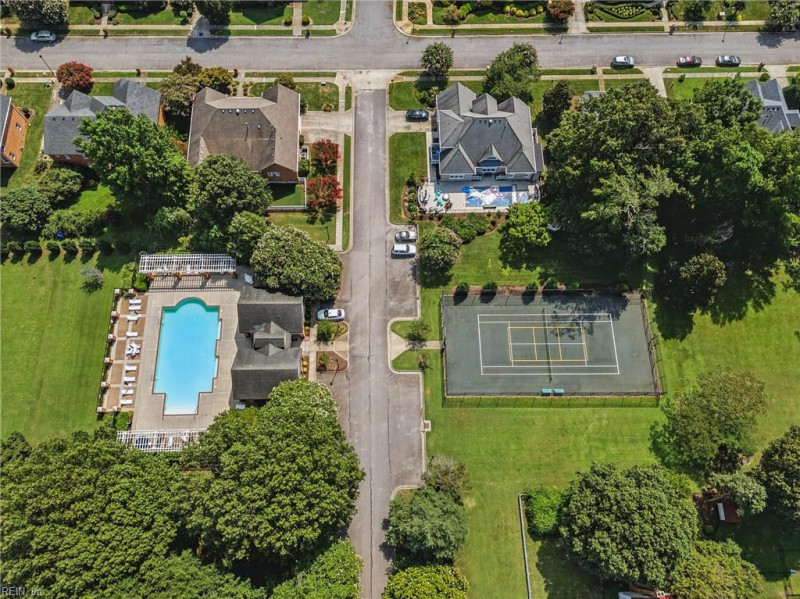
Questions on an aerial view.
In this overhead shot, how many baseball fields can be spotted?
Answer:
0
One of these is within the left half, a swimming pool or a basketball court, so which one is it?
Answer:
swimming pool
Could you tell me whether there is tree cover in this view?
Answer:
Yes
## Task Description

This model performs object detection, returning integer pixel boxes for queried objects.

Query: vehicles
[405,110,428,121]
[395,230,416,241]
[716,57,740,68]
[391,244,416,255]
[610,56,634,68]
[31,31,56,43]
[677,57,701,68]
[316,308,345,320]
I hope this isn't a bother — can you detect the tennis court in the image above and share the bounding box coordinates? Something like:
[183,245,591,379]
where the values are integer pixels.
[442,292,659,398]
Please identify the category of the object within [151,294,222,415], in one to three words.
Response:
swimming pool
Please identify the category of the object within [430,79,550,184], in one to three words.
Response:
house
